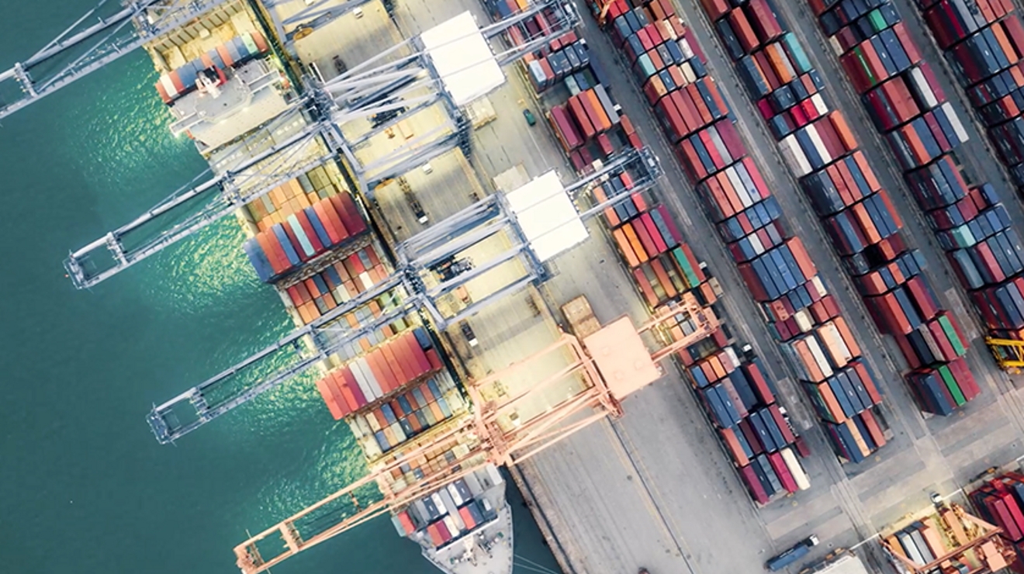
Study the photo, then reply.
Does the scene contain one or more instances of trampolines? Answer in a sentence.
No, the frame has no trampoline in it.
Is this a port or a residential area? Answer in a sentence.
This looks like a port.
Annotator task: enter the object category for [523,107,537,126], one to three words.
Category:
vehicle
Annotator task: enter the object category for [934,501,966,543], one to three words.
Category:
shipping container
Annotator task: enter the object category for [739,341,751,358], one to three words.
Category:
vehicle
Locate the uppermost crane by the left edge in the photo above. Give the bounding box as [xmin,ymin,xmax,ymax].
[0,0,399,128]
